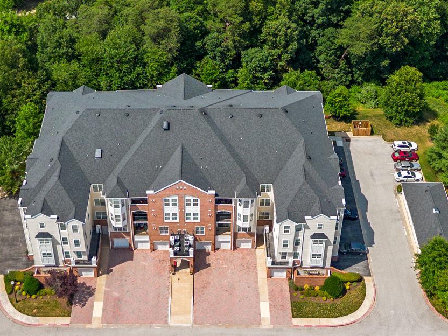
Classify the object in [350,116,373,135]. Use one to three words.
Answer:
building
